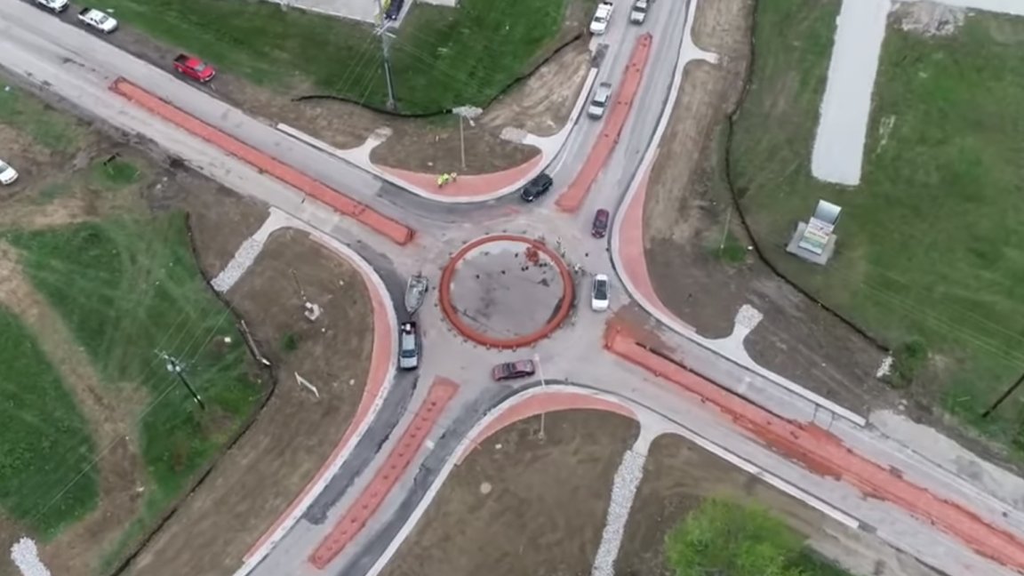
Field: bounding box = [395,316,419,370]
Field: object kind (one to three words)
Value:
truck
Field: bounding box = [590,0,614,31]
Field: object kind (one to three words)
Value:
truck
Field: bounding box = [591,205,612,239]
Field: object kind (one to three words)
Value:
car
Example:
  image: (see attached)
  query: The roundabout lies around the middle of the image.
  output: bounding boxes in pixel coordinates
[404,210,614,384]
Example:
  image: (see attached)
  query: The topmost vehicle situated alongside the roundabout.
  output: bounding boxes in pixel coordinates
[520,169,556,202]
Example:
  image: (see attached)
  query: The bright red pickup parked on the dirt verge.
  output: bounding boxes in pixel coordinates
[170,52,213,80]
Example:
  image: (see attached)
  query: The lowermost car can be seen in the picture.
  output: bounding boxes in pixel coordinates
[490,357,538,380]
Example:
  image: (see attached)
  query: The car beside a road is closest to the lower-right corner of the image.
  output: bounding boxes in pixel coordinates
[591,271,612,312]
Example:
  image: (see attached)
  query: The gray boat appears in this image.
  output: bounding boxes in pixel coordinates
[402,264,427,310]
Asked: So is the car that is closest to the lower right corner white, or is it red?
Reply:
white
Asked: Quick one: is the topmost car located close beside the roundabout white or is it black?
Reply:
black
